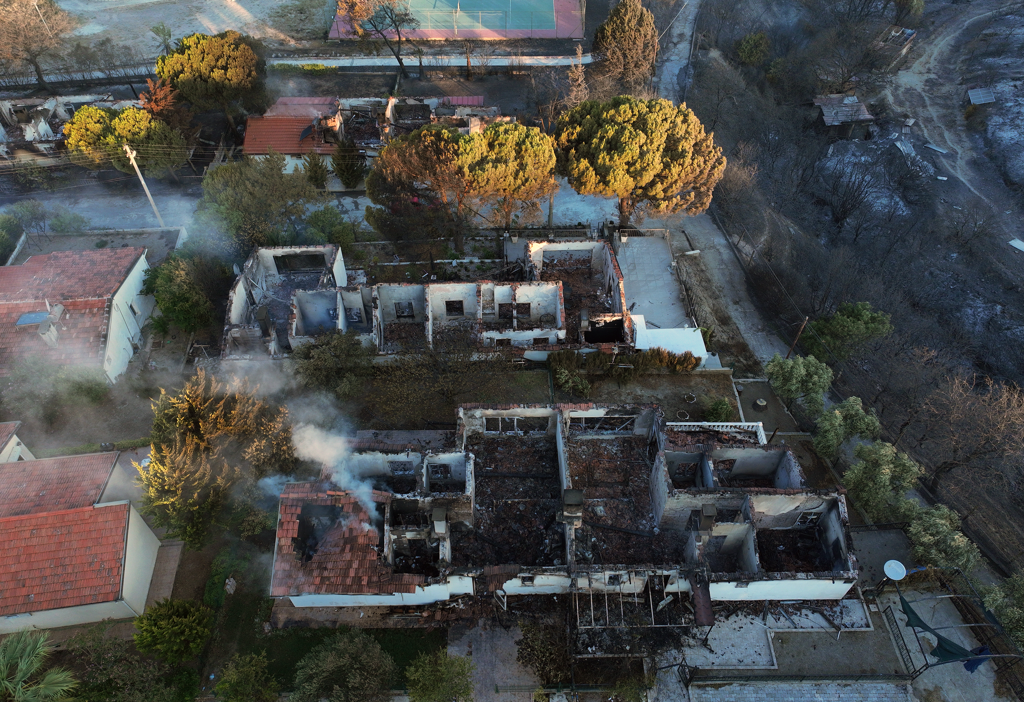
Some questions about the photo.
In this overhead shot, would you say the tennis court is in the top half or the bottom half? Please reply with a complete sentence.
You can find the tennis court in the top half.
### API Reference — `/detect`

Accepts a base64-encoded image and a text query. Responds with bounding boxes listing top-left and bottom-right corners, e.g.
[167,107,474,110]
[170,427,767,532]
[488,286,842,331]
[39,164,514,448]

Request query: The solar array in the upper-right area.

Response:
[958,87,996,115]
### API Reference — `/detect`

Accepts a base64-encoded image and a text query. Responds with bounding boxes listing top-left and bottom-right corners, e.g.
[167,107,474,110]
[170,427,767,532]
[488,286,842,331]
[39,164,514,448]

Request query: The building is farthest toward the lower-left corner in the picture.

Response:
[0,446,164,617]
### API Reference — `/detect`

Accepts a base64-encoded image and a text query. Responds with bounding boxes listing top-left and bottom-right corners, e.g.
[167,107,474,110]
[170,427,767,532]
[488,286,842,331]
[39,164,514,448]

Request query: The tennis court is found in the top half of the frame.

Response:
[327,0,585,40]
